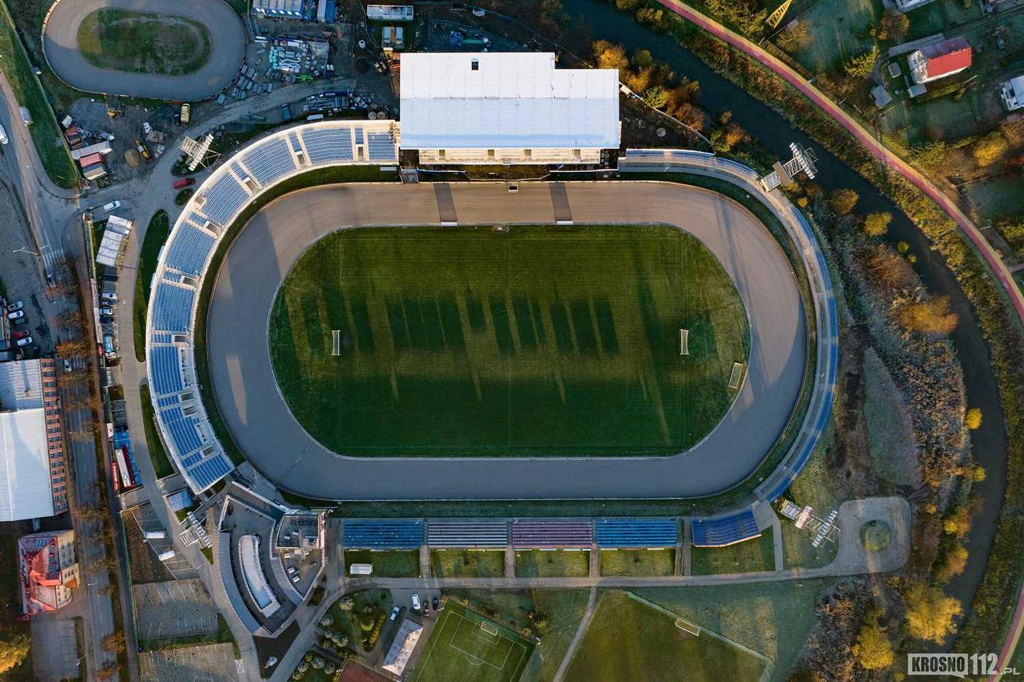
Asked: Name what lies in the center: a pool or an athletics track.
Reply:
athletics track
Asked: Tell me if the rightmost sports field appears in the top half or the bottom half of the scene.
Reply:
bottom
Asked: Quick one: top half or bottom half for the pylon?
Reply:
top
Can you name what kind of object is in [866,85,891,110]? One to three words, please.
shed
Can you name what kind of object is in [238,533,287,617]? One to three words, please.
building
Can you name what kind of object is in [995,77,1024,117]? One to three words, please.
house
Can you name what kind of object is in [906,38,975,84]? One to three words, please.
house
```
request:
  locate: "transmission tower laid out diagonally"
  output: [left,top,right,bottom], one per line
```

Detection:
[765,0,795,30]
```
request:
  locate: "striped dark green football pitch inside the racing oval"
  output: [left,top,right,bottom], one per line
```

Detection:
[270,224,750,459]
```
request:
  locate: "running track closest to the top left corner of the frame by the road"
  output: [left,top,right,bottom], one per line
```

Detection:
[40,0,246,101]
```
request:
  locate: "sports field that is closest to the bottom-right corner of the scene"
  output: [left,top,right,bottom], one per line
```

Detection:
[567,591,769,682]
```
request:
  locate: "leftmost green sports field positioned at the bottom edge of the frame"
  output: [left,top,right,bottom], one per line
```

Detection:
[403,603,539,682]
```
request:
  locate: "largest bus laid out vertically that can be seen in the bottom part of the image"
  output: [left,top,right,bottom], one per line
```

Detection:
[117,446,139,488]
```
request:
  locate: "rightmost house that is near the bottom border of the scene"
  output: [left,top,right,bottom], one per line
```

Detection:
[383,612,425,675]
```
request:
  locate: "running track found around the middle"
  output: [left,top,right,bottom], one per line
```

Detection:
[207,179,810,502]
